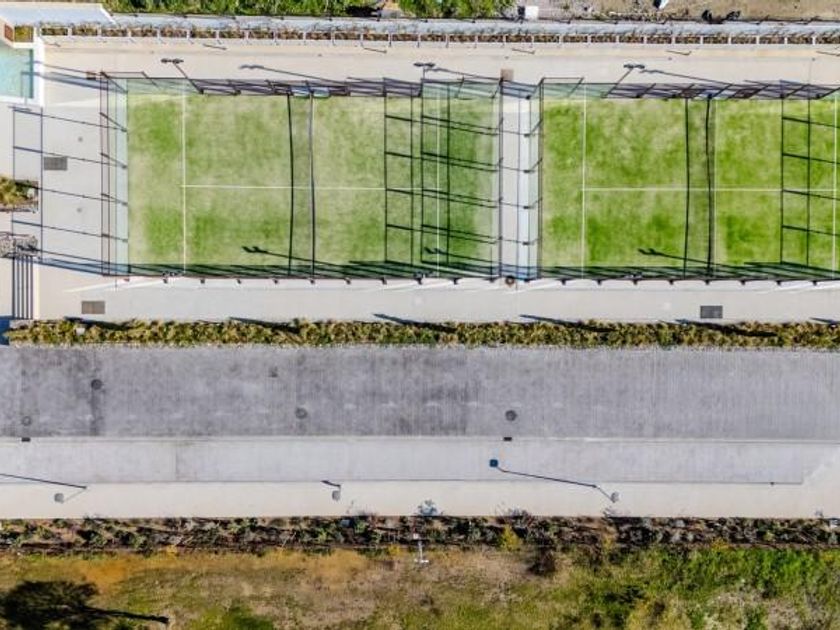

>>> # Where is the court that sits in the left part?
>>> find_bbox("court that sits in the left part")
[98,72,504,285]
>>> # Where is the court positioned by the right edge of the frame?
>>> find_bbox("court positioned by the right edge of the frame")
[523,76,840,287]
